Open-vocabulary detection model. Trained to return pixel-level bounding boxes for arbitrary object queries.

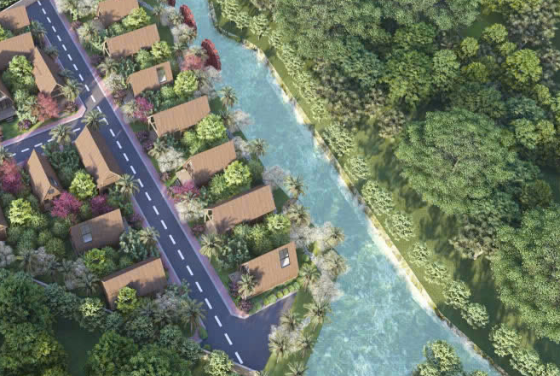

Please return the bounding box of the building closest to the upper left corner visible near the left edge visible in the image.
[0,5,37,40]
